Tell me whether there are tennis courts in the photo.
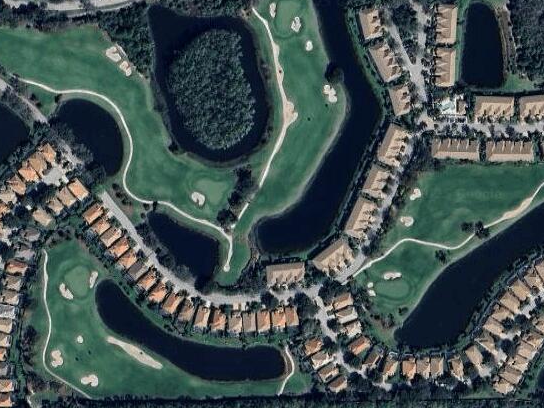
No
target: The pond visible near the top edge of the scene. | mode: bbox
[462,1,504,89]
